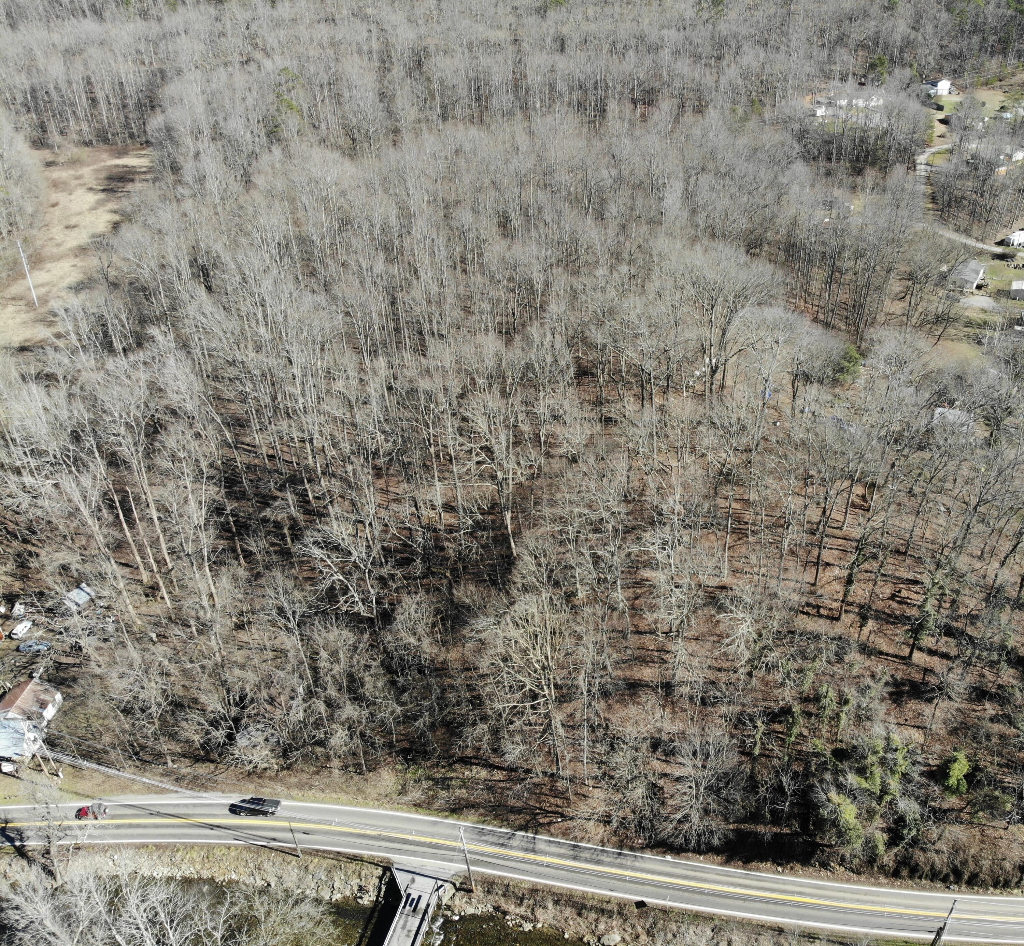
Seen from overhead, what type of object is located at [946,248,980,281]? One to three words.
house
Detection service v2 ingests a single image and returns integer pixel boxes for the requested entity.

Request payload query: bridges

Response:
[383,863,452,946]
